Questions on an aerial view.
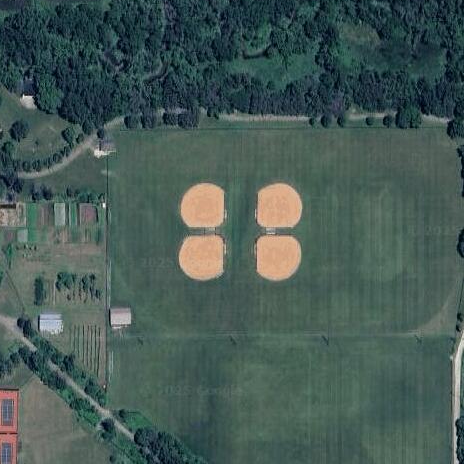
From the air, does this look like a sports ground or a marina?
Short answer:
sports ground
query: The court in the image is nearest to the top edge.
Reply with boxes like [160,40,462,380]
[0,389,18,432]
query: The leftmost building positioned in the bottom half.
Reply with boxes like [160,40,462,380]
[40,315,63,331]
